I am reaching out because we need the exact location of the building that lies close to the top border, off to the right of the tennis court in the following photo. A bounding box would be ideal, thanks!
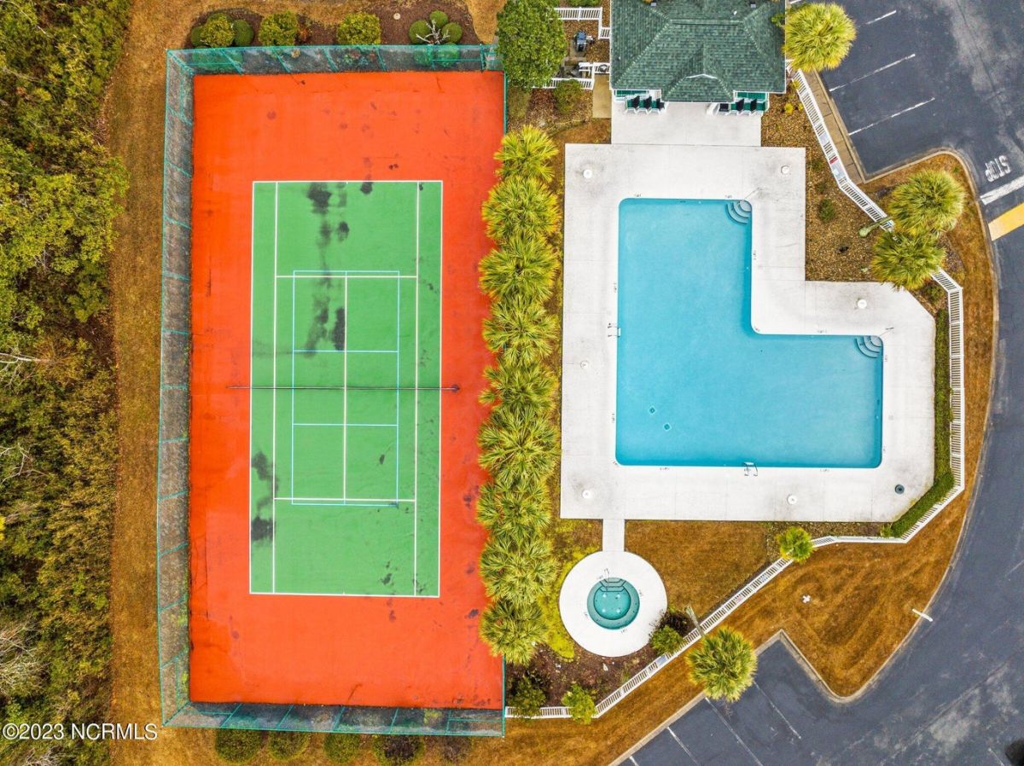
[612,0,786,117]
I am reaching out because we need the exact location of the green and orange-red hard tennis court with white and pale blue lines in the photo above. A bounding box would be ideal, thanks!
[189,71,504,710]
